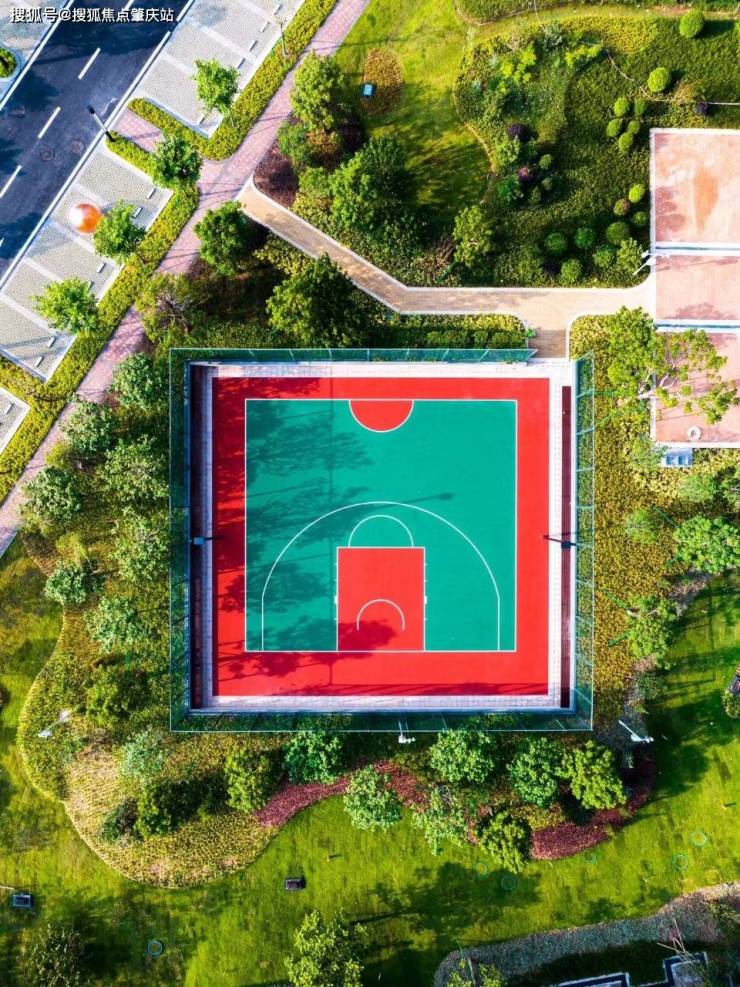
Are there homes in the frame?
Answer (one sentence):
No, the photo shows no home.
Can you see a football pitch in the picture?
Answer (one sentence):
No, the scene contains no football pitch.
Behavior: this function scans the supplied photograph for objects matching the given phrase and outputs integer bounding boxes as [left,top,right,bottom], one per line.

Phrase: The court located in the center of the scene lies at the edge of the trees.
[213,378,549,697]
